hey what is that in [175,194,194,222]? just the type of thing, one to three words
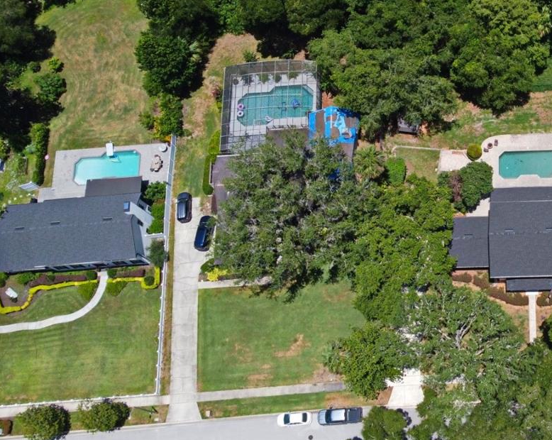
car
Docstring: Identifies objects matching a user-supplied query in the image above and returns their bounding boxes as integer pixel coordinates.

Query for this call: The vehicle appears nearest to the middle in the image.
[193,218,216,249]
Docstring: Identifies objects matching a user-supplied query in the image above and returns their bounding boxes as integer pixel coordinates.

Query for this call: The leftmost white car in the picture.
[277,409,314,427]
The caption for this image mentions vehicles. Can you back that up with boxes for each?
[318,406,364,426]
[175,194,194,222]
[277,409,314,427]
[193,218,216,249]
